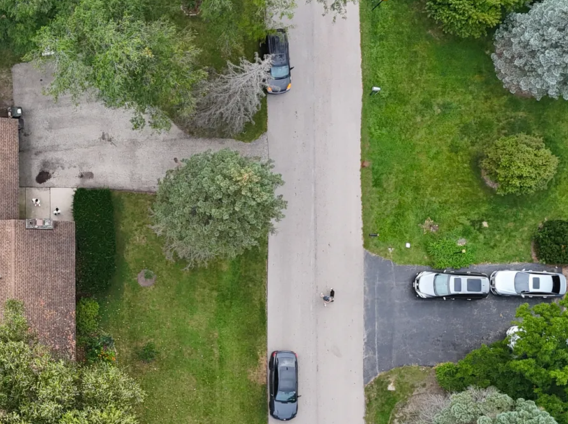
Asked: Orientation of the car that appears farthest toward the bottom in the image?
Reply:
vertically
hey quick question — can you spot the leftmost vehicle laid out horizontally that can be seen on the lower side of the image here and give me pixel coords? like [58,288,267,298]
[409,268,485,302]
